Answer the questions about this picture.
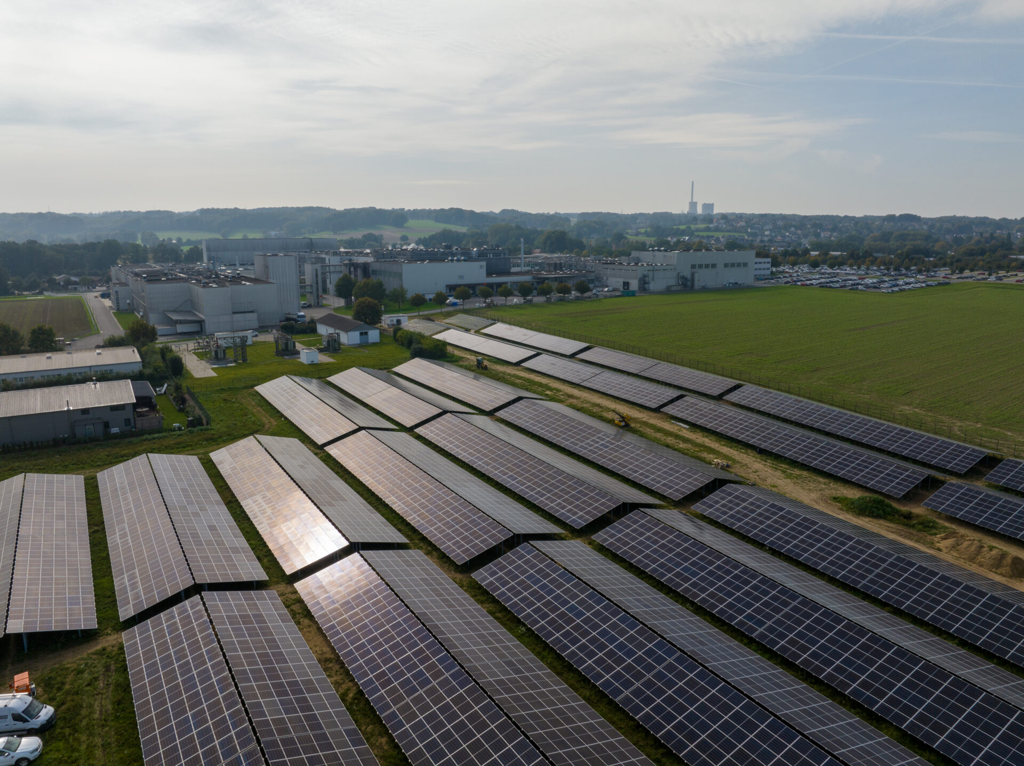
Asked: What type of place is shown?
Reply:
solar farm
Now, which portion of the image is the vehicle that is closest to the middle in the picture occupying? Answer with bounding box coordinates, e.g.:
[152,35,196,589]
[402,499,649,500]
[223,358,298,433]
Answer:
[472,357,489,372]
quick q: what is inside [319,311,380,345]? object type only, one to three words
house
